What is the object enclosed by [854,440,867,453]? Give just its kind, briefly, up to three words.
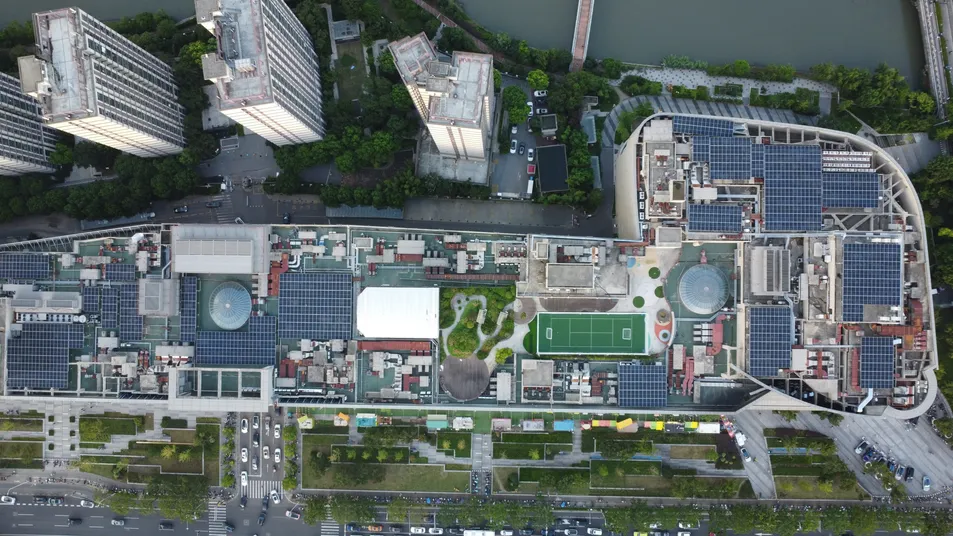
vehicle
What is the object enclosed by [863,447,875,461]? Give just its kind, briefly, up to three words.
vehicle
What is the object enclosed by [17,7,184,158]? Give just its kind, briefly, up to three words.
building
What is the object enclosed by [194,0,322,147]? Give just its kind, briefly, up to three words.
building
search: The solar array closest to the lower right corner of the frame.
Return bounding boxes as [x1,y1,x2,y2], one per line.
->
[859,338,893,388]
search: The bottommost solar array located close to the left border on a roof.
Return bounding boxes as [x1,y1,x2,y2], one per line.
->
[7,324,86,388]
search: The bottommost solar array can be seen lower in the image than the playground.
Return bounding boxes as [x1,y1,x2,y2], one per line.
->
[620,365,667,407]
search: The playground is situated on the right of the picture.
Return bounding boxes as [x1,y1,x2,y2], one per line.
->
[611,247,682,356]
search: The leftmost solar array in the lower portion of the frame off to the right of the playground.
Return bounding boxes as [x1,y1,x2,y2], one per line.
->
[750,307,790,376]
